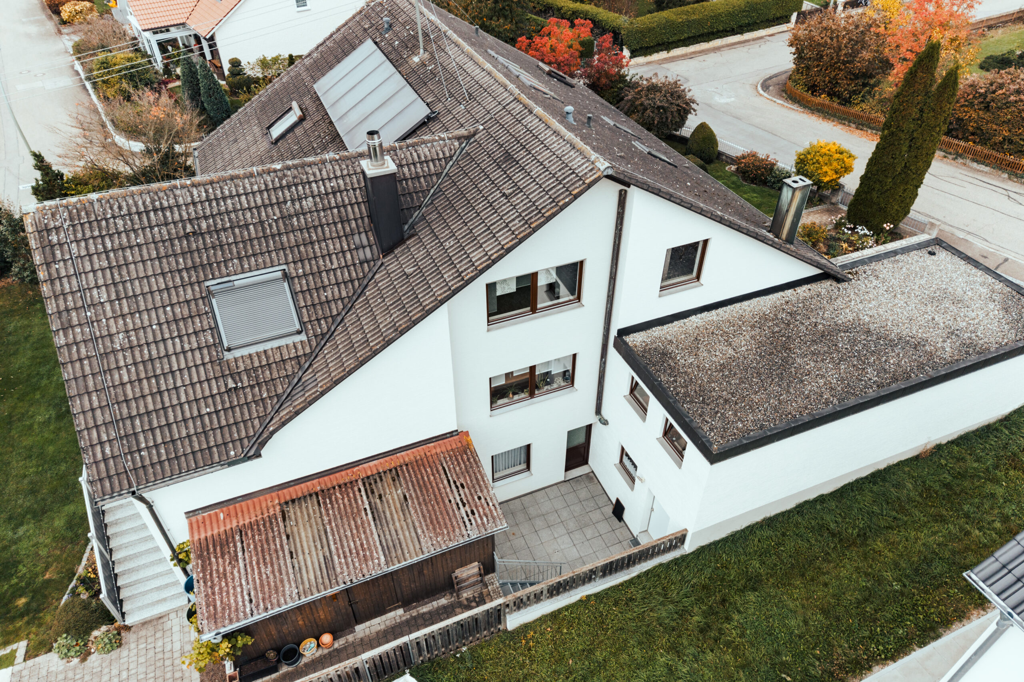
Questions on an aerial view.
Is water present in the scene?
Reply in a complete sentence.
No, there is no water in the image.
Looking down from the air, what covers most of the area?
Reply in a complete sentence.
What you mostly see from above here is buildings.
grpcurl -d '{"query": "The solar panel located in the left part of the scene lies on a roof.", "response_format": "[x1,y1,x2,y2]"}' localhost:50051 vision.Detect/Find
[309,34,435,146]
